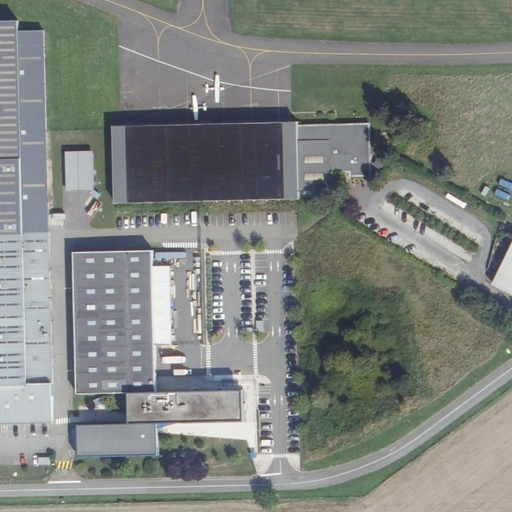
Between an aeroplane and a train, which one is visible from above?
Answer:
aeroplane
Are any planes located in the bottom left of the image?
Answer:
No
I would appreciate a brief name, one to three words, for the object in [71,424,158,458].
building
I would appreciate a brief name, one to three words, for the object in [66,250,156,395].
building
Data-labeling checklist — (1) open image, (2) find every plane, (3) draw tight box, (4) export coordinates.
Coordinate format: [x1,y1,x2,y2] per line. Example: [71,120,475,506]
[190,94,208,120]
[204,74,224,102]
